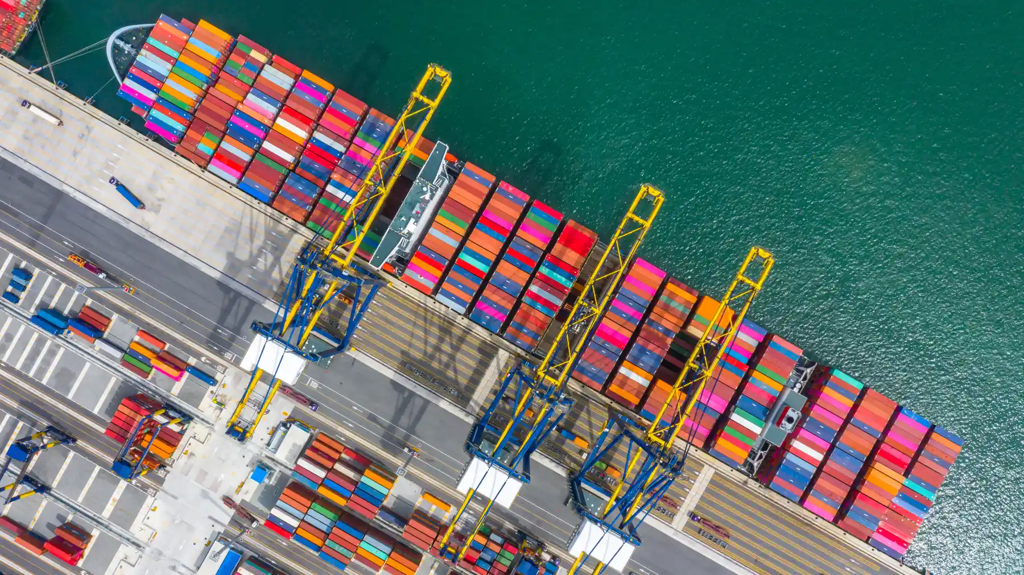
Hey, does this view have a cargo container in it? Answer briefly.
Yes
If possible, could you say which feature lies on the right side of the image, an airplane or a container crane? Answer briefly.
container crane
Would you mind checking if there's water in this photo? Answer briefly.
Yes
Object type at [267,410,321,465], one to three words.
shed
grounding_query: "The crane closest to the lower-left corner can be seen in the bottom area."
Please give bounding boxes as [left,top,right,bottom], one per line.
[0,429,77,507]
